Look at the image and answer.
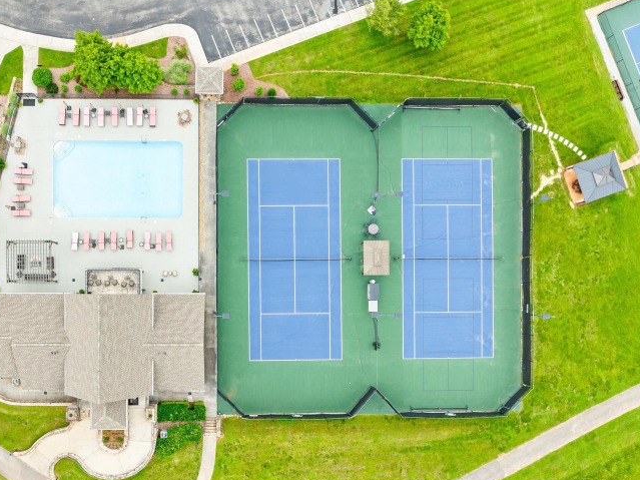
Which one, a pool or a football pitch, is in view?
pool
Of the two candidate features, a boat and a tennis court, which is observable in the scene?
tennis court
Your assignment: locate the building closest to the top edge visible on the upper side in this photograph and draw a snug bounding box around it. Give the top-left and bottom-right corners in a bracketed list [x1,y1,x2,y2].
[195,66,225,100]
